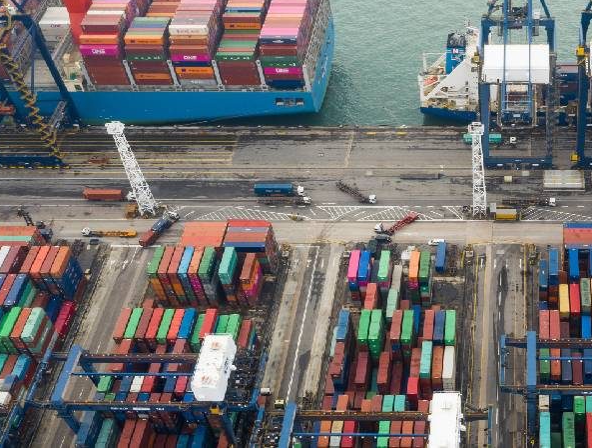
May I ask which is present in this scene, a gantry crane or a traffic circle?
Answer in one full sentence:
The one in the frame is a gantry crane.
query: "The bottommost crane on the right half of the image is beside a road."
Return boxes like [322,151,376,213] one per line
[254,394,499,448]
